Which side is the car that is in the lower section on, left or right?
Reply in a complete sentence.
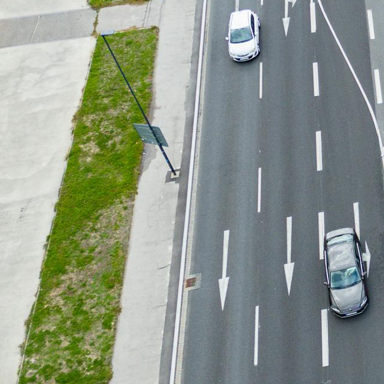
You can find the car that is in the lower section on the right side of the picture.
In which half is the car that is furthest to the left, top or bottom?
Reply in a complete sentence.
The car that is furthest to the left sits in the top half of the picture.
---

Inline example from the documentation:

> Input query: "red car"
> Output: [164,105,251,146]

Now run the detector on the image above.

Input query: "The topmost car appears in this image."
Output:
[221,6,260,61]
